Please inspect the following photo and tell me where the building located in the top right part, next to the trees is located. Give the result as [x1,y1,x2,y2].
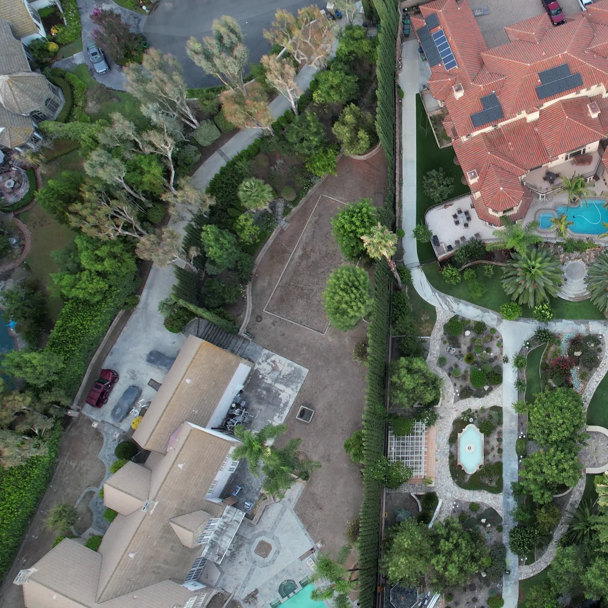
[411,0,608,227]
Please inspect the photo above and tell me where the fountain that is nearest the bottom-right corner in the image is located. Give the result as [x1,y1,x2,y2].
[456,424,485,473]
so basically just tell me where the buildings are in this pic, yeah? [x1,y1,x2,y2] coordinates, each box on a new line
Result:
[411,0,608,227]
[0,0,66,161]
[15,421,238,608]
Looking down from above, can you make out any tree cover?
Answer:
Yes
